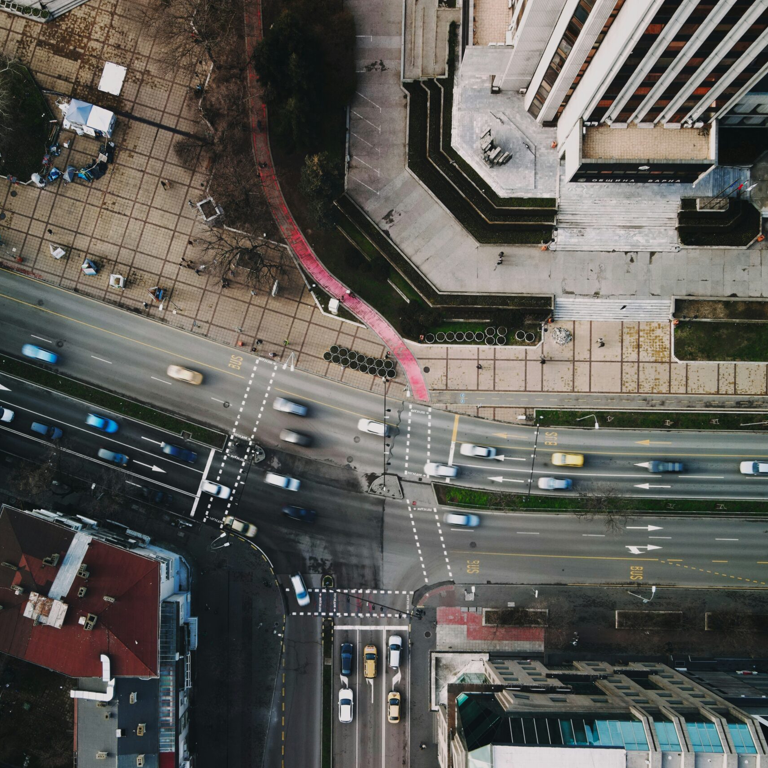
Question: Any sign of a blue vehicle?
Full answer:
Yes, the picture does show a blue vehicle.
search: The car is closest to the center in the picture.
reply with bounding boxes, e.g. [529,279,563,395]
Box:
[355,418,392,436]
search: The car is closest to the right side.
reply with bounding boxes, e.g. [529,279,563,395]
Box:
[739,458,768,475]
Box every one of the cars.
[363,643,378,680]
[461,441,494,458]
[537,475,573,492]
[86,412,119,434]
[646,456,685,473]
[337,687,355,724]
[158,439,198,464]
[28,419,65,441]
[288,572,310,605]
[25,345,57,366]
[445,511,477,528]
[386,689,402,725]
[95,445,133,468]
[271,396,310,418]
[551,450,584,467]
[739,458,768,475]
[198,477,232,500]
[223,516,258,537]
[338,642,355,678]
[279,428,312,447]
[355,418,392,436]
[168,365,204,387]
[386,634,403,670]
[425,462,458,477]
[139,483,176,504]
[0,407,16,423]
[262,471,301,491]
